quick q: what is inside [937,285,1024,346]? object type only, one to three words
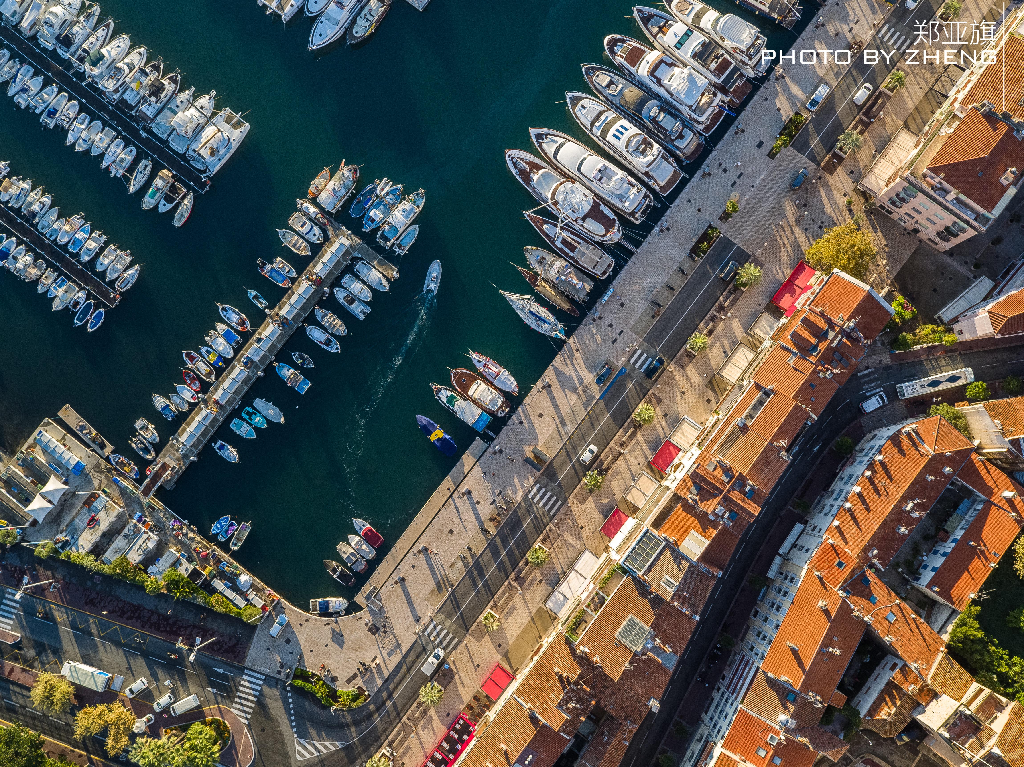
house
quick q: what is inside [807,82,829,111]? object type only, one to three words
truck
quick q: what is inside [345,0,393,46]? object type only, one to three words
boat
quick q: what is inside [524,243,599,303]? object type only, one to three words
ship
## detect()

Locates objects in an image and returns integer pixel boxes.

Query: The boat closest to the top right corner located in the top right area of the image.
[741,0,806,38]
